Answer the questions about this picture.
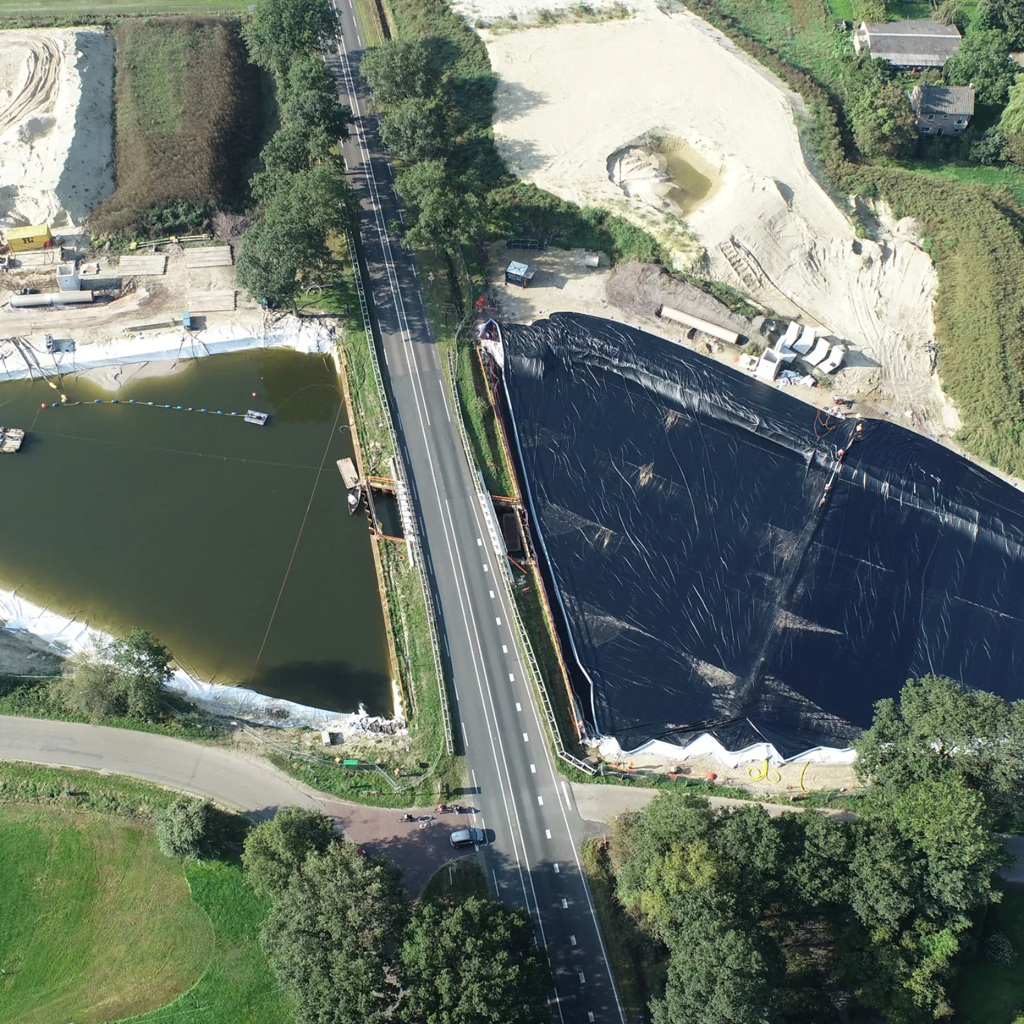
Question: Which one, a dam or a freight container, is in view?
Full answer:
It is a freight container that can be seen here.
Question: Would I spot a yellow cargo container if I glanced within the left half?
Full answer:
Yes, looking within the left half, one can make out a yellow cargo container.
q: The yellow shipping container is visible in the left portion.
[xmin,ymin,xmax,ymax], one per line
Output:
[2,222,49,250]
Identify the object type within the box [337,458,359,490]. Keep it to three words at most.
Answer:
ship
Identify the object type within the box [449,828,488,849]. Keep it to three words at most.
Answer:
car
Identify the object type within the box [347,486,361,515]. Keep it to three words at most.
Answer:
boat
